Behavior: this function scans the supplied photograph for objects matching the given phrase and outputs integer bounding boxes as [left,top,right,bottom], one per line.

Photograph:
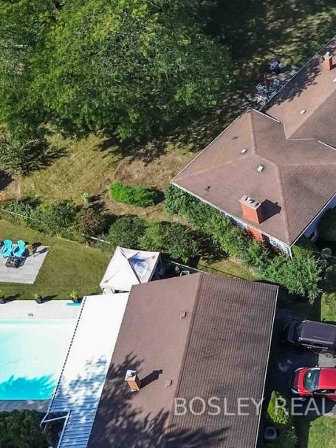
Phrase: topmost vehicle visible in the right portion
[279,316,336,359]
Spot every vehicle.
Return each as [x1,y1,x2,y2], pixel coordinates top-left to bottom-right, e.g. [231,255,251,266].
[288,361,336,401]
[279,316,336,359]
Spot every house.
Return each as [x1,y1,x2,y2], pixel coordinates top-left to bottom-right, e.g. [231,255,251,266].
[42,269,281,448]
[171,36,336,254]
